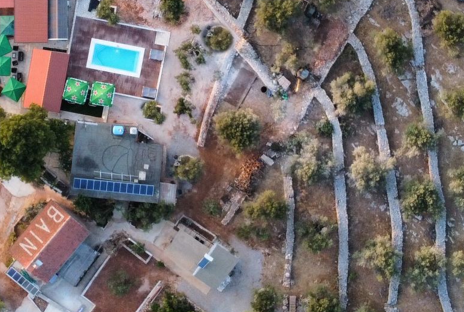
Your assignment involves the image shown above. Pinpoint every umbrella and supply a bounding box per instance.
[64,78,89,106]
[90,82,115,108]
[2,78,26,100]
[0,58,12,76]
[0,35,12,54]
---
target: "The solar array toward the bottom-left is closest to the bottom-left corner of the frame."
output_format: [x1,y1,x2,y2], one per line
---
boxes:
[6,265,40,296]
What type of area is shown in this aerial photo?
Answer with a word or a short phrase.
residential area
